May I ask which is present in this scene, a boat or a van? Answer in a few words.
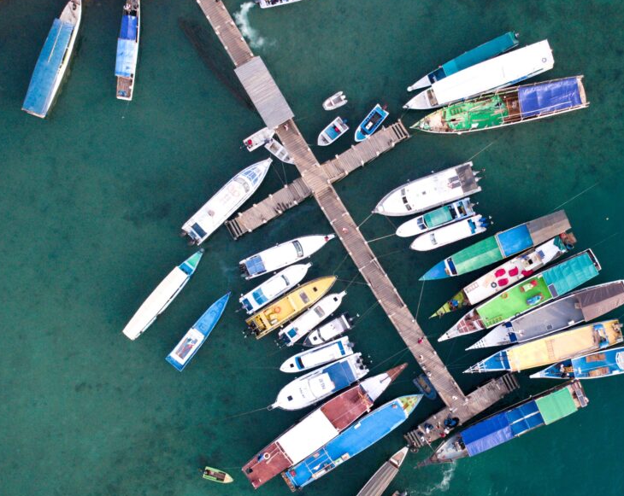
boat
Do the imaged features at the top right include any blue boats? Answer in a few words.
Yes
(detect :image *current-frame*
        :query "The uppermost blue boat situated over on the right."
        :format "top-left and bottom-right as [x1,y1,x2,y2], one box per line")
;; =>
[408,32,517,90]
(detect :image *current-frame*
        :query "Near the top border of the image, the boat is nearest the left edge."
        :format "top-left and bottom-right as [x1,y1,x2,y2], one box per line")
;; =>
[22,0,82,121]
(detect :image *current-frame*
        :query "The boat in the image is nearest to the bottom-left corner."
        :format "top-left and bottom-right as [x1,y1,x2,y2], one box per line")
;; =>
[201,466,233,482]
